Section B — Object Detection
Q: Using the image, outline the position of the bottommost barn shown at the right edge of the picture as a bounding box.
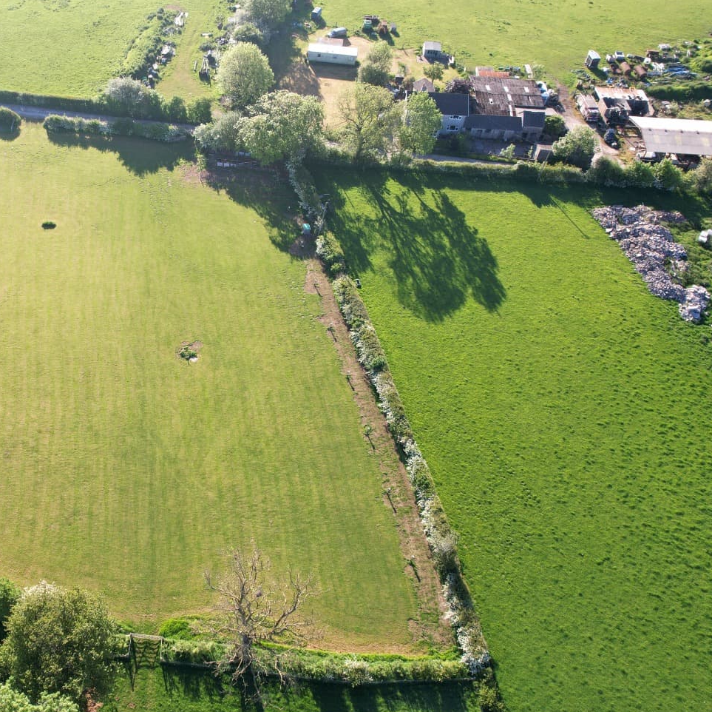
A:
[618,114,712,176]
